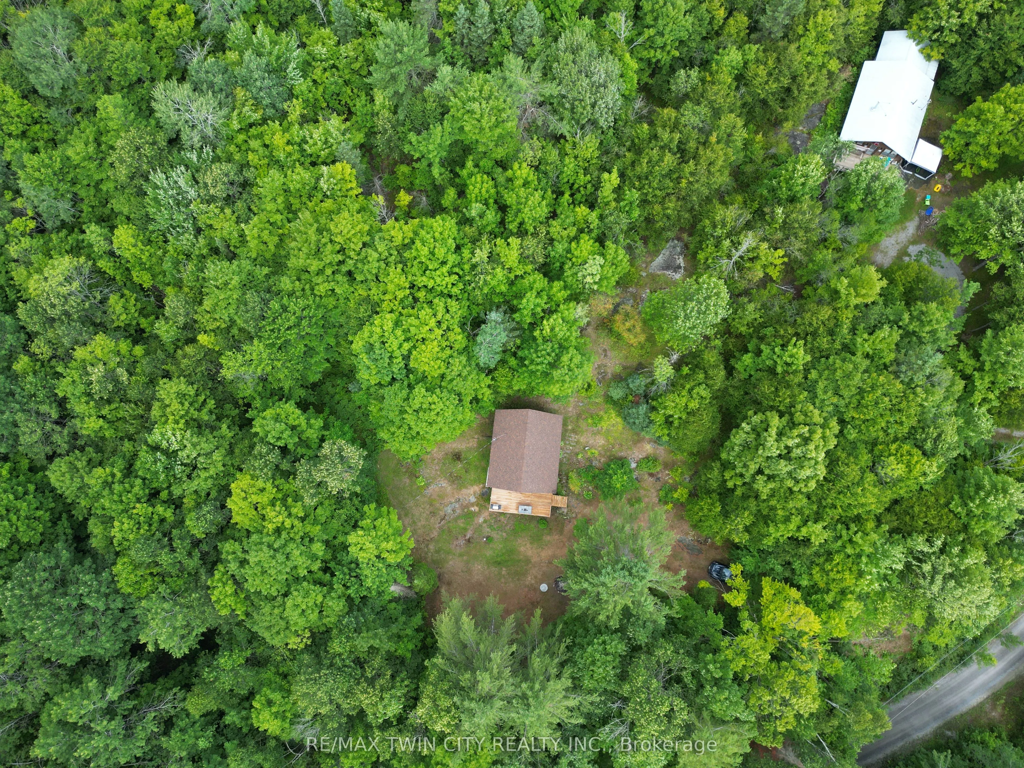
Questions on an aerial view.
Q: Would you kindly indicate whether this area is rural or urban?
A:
rural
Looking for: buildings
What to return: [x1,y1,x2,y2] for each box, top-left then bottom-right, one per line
[830,30,945,185]
[486,409,568,517]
